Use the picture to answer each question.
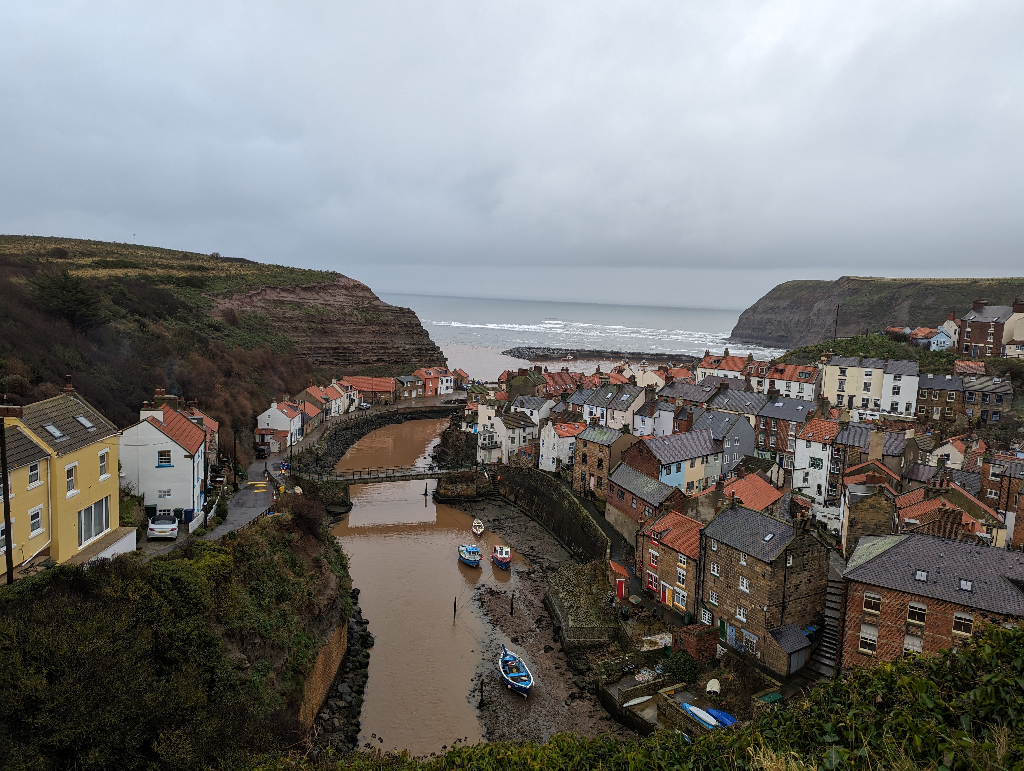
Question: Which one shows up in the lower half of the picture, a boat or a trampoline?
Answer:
boat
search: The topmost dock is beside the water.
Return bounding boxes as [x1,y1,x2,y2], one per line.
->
[530,349,701,367]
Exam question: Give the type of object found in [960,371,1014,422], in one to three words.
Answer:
house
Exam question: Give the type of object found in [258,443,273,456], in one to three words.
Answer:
vehicle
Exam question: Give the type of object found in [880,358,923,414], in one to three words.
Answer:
house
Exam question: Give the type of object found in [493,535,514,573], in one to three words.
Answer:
boat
